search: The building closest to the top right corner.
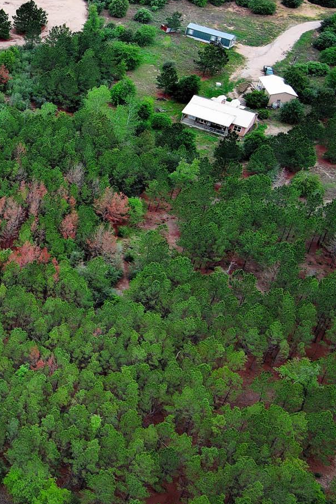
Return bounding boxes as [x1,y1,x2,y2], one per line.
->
[253,73,298,108]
